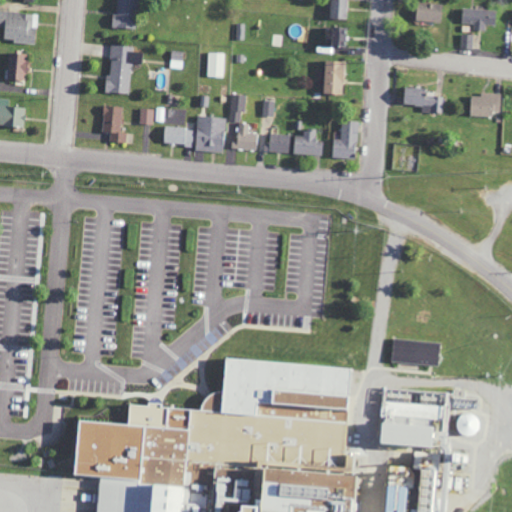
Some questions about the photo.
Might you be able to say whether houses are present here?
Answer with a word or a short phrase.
Yes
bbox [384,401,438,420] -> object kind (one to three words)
building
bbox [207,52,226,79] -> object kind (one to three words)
shed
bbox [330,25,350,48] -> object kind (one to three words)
house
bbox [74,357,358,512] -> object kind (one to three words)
building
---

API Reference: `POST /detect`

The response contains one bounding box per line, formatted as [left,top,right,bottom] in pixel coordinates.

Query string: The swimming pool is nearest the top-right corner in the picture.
[288,23,307,40]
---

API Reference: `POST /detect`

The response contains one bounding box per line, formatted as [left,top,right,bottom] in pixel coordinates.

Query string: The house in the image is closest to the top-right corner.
[462,6,496,34]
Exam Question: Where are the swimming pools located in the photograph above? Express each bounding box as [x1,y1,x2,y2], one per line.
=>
[288,23,307,40]
[156,72,166,90]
